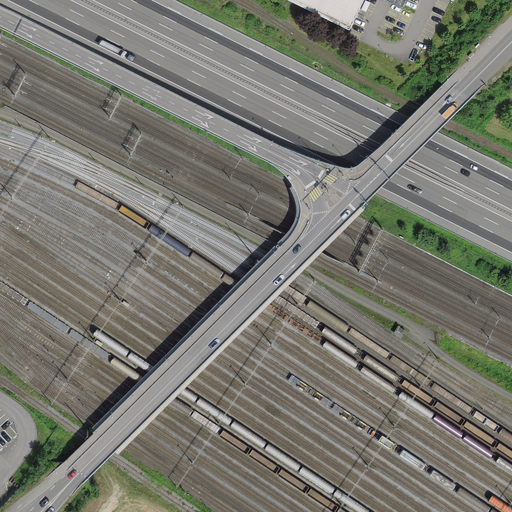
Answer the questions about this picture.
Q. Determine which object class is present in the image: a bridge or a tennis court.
bridge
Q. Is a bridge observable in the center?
Yes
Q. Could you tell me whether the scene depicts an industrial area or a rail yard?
rail yard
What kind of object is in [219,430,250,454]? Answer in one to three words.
rail car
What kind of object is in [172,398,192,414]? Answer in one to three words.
rail car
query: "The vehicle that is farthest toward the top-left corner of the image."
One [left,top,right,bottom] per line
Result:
[100,38,135,61]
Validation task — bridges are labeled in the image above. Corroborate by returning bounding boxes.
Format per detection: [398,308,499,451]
[76,74,472,471]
